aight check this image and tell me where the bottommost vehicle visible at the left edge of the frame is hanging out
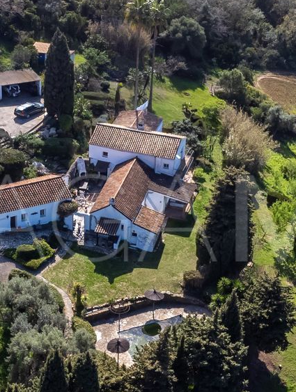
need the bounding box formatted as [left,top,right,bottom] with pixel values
[12,99,46,115]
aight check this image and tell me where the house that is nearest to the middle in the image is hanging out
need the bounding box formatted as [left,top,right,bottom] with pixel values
[73,108,199,260]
